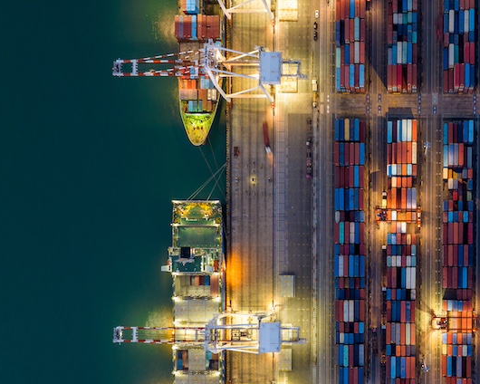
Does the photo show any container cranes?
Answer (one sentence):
Yes, the photo shows a container crane.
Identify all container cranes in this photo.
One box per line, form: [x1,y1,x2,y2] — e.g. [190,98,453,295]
[216,0,274,27]
[113,44,307,108]
[375,206,424,229]
[432,312,480,333]
[113,310,307,355]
